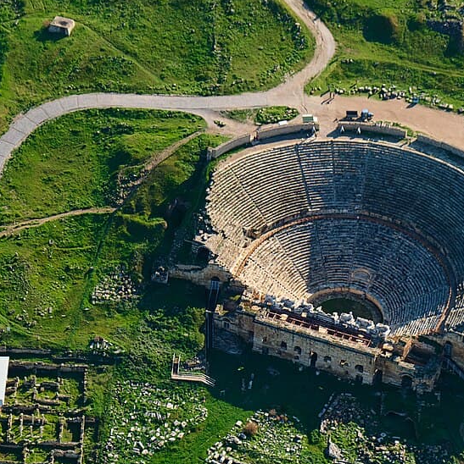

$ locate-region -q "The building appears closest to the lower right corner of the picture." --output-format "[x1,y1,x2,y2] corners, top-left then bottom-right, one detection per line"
[214,296,441,394]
